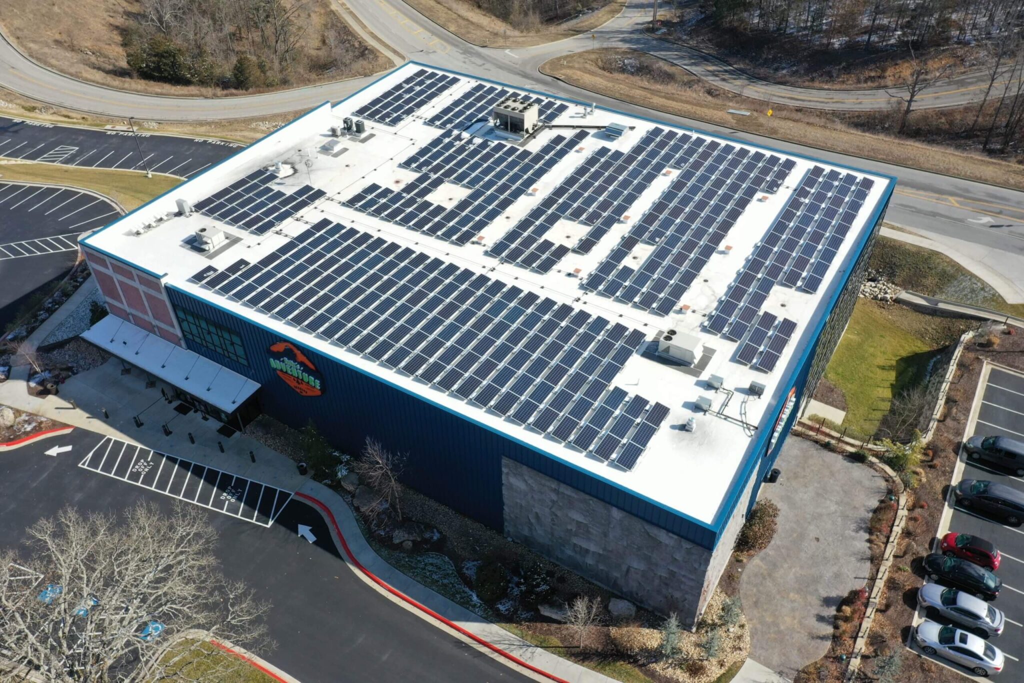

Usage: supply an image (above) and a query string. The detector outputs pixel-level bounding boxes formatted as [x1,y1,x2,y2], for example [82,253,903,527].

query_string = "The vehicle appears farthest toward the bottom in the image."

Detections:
[913,618,1008,681]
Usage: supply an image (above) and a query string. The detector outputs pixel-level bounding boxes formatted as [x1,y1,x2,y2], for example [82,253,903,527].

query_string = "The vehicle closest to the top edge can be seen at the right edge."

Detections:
[965,433,1024,476]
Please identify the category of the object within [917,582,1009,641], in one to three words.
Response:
car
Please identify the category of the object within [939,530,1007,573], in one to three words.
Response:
car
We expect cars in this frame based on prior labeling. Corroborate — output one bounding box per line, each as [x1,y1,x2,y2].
[965,433,1024,476]
[939,530,1007,573]
[921,551,1008,605]
[913,618,1008,681]
[955,477,1024,525]
[917,582,1009,641]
